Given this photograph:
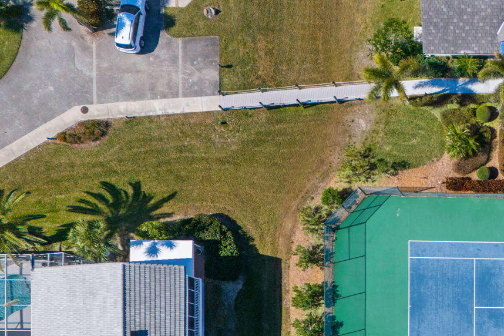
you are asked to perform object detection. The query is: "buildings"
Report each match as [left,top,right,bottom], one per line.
[31,240,204,336]
[421,0,504,65]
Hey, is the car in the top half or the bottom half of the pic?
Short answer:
top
